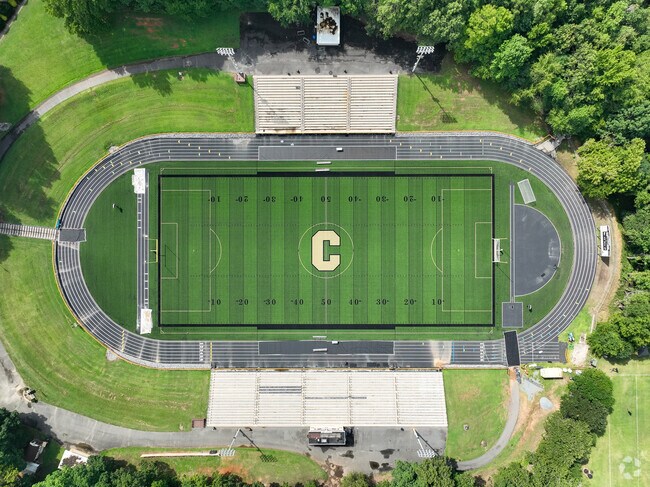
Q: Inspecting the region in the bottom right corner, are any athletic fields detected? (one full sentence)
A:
Yes, an athletic field shows up in the bottom right corner.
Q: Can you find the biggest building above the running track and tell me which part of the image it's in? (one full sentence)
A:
The biggest building above the running track is located in the top region of the scene.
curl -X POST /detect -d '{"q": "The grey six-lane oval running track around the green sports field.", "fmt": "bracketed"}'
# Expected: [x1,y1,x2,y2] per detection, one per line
[55,132,597,368]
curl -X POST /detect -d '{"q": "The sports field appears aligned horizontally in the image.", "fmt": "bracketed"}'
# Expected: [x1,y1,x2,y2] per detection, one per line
[79,160,574,340]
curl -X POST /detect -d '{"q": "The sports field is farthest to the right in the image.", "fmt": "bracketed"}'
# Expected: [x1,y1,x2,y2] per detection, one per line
[592,357,650,487]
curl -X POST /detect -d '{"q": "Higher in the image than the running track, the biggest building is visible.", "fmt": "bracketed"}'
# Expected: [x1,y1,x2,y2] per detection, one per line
[317,5,340,48]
